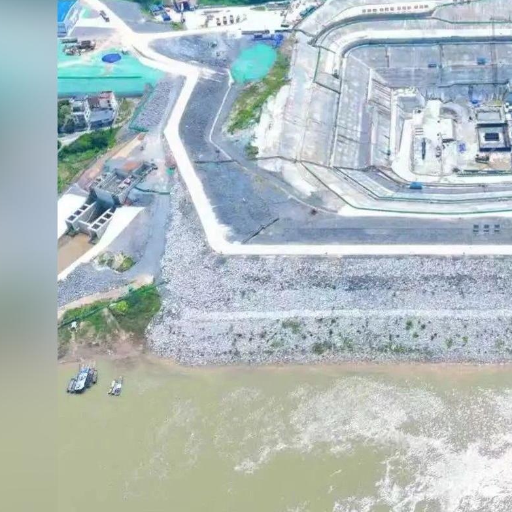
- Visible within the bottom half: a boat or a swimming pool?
boat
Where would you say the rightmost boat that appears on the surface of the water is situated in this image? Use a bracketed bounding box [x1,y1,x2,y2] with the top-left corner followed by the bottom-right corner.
[108,377,124,394]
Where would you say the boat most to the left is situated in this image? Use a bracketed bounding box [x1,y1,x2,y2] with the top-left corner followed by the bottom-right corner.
[69,365,99,393]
